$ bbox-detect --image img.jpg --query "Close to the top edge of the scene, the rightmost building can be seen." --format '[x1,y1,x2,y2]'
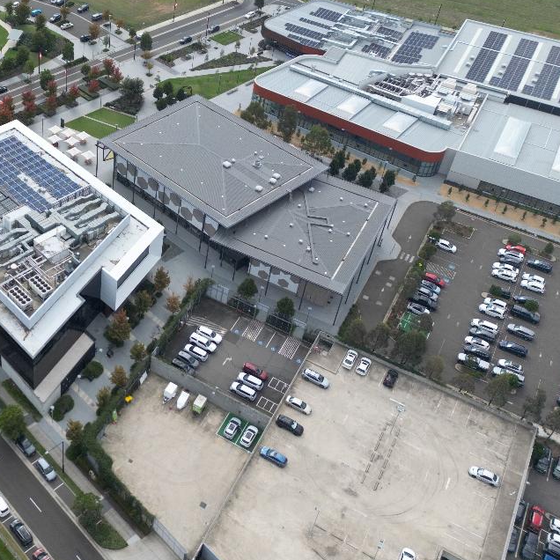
[253,0,560,217]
